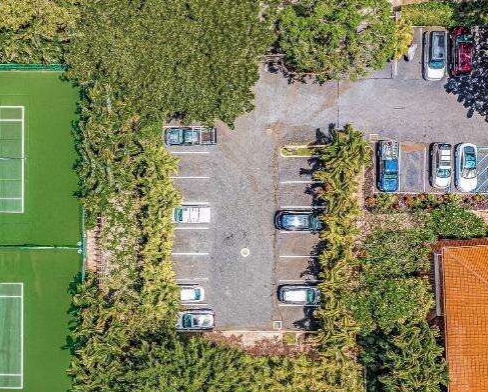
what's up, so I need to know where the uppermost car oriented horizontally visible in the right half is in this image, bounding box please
[274,210,323,232]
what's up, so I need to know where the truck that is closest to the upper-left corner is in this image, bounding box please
[164,125,217,146]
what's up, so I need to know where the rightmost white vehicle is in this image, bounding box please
[454,145,479,191]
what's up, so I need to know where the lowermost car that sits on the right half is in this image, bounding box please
[276,286,322,307]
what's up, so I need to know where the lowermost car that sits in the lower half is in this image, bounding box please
[177,309,217,330]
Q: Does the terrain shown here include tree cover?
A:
Yes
